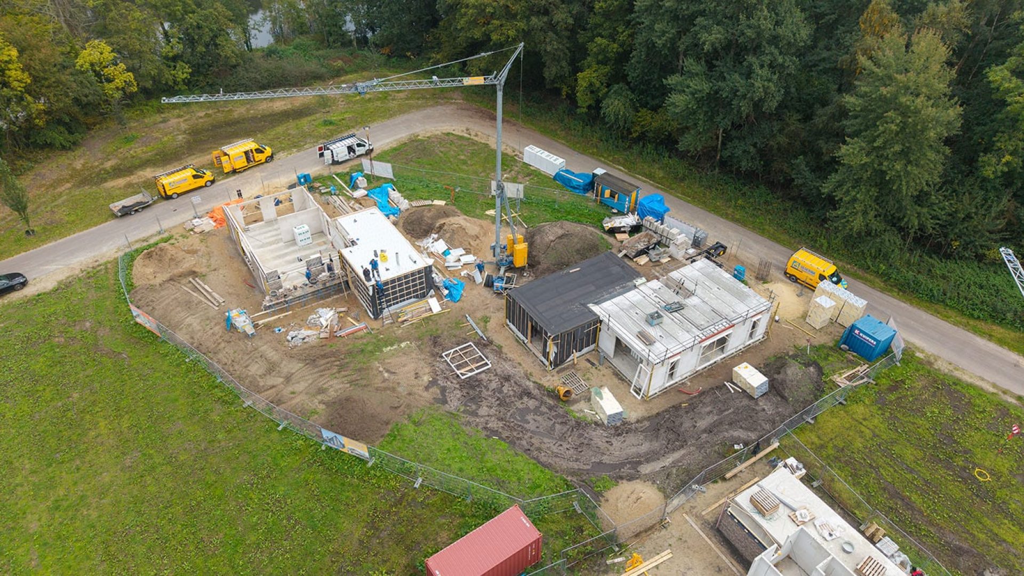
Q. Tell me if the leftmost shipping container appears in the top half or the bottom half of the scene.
bottom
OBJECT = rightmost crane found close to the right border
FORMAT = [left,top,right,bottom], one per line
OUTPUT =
[997,245,1024,310]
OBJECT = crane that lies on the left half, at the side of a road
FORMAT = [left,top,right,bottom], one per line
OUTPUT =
[158,43,528,292]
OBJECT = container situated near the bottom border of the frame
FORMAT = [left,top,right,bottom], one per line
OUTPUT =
[425,504,541,576]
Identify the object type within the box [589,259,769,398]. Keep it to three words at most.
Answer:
house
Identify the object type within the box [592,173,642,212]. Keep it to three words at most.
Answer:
building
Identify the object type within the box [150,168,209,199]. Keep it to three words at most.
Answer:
van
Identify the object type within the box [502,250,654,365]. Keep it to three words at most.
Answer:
house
